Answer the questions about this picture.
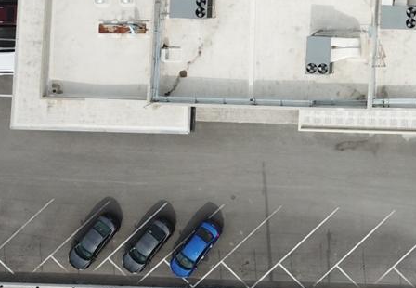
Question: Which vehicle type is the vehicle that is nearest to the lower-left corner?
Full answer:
I'd identify the vehicle that is nearest to the lower-left corner as an automobile.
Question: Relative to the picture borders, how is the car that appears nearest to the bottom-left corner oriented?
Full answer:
In this picture, the car that appears nearest to the bottom-left corner is oriented diagonally.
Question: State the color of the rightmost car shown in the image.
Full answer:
In this view, the rightmost car is blue.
